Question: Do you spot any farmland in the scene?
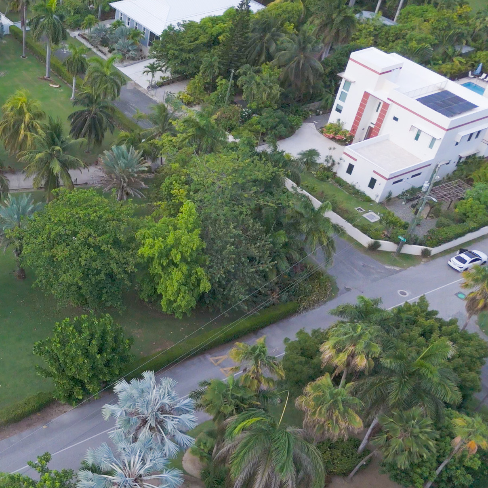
No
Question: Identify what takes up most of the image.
trees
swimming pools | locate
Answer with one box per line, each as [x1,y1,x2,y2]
[450,75,488,90]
